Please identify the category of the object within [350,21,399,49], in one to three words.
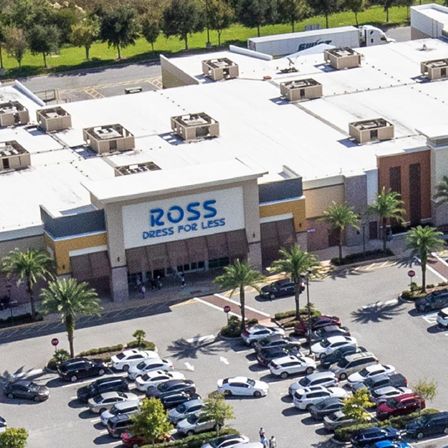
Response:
truck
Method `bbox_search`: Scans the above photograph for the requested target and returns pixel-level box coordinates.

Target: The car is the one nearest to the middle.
[261,281,306,299]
